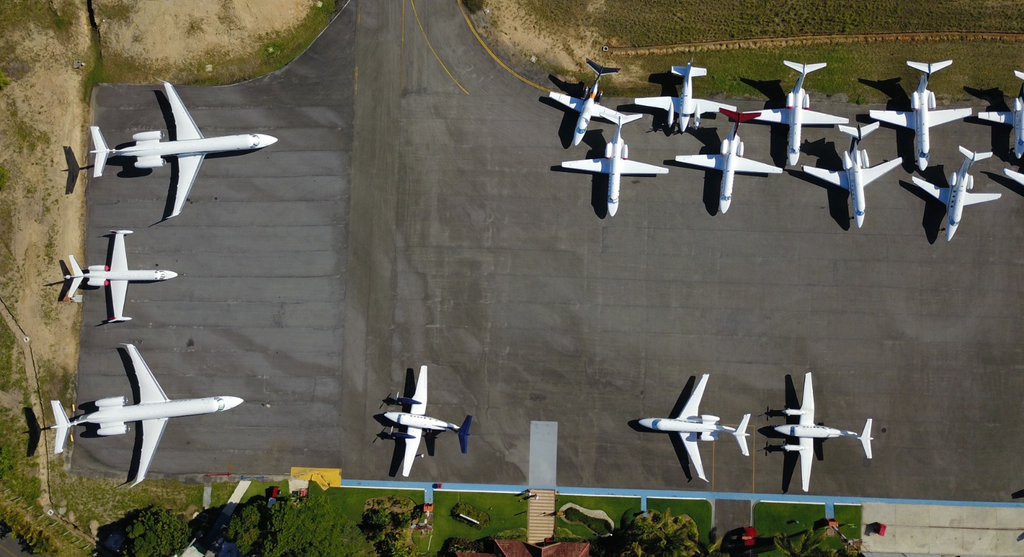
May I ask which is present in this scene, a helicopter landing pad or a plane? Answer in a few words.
plane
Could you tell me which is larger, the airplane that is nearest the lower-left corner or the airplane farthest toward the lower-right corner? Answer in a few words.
the airplane that is nearest the lower-left corner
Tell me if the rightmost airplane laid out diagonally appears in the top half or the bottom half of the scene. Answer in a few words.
top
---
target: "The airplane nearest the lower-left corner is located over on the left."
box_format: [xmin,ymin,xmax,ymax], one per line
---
[50,346,244,486]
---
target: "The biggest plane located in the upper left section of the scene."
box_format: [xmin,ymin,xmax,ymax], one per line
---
[86,78,278,219]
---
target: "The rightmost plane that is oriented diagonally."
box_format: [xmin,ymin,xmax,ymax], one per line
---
[1004,164,1024,187]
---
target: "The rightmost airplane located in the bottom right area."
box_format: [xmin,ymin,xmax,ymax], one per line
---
[774,372,874,491]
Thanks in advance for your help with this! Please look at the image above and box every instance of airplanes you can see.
[562,111,669,216]
[975,69,1024,158]
[805,122,907,228]
[635,57,738,131]
[50,346,244,486]
[549,58,626,145]
[677,107,783,213]
[774,372,874,491]
[743,60,850,167]
[915,146,1004,241]
[66,232,178,319]
[384,364,473,476]
[639,375,752,483]
[86,78,278,219]
[1004,164,1024,187]
[870,59,973,170]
